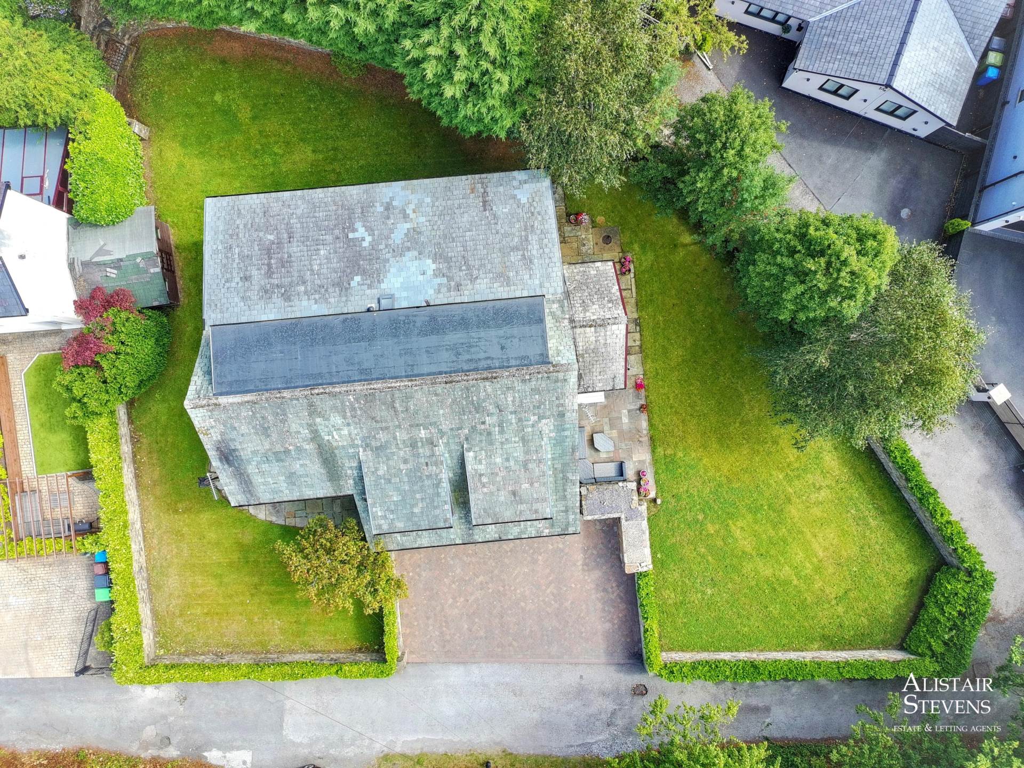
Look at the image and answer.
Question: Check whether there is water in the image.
No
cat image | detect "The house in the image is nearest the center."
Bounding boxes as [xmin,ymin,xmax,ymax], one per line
[181,168,629,550]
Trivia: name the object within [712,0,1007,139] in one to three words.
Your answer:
house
